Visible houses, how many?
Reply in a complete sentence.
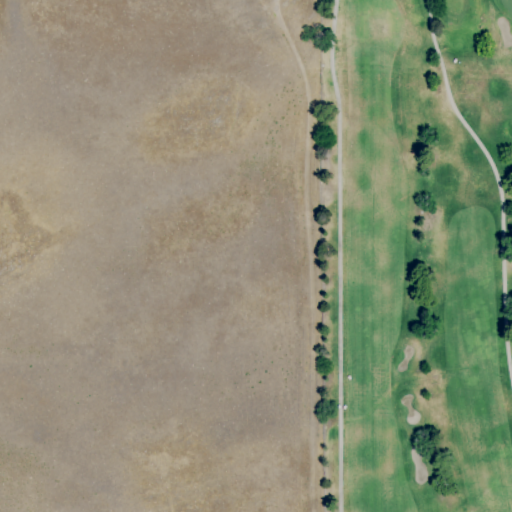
There are no houses in the image.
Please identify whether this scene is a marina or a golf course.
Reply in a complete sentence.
The picture captures a golf course.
